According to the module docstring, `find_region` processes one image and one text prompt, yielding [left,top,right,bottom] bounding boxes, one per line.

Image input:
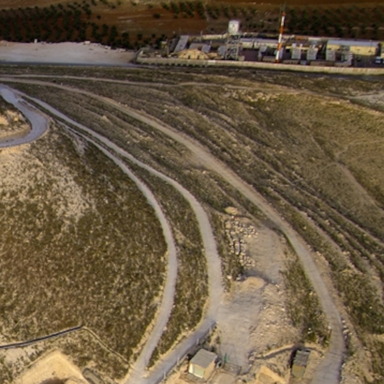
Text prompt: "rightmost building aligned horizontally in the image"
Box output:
[323,36,384,55]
